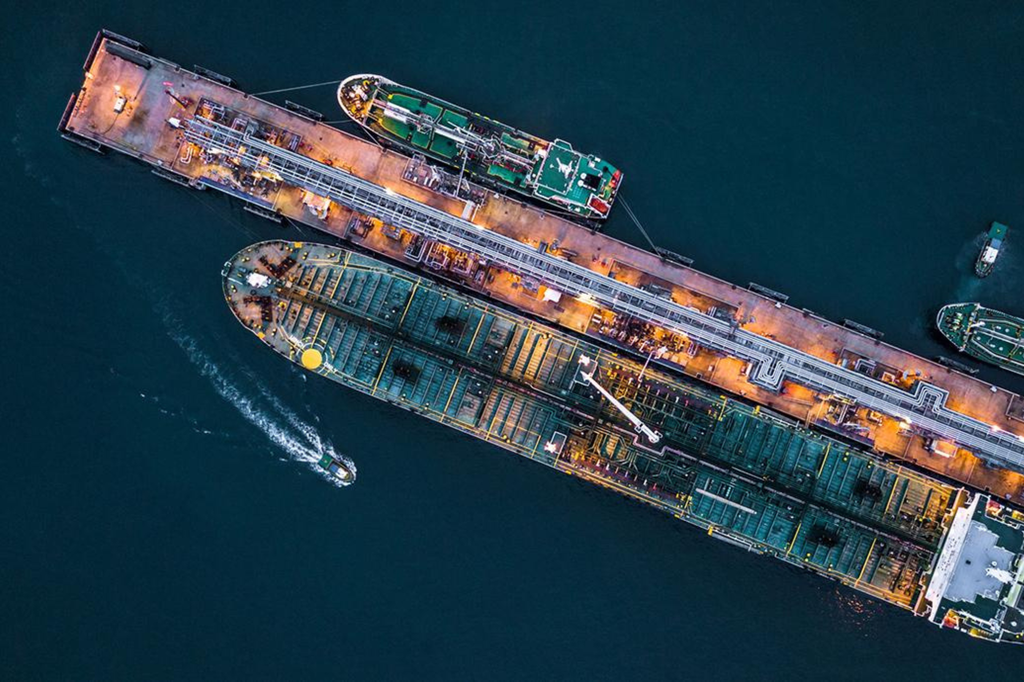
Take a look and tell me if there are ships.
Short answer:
Yes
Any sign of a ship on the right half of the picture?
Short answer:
Yes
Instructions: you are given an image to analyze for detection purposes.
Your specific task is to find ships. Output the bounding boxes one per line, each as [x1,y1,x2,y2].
[221,236,1024,646]
[934,302,1024,377]
[336,74,624,222]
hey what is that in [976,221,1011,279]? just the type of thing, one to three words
boat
